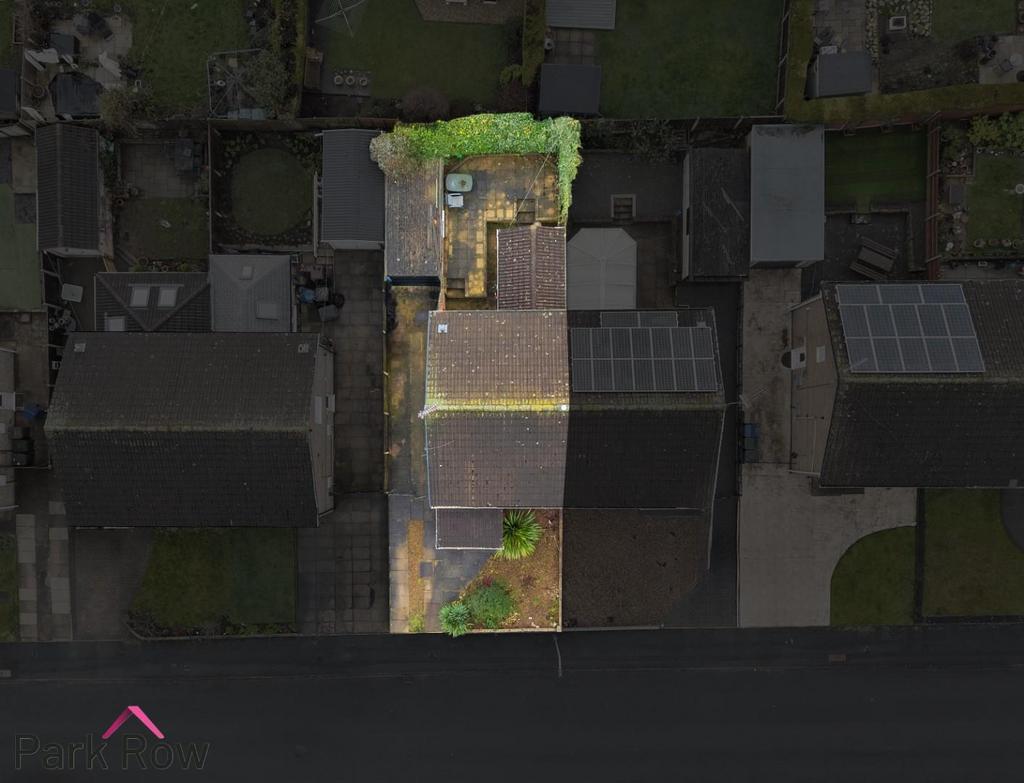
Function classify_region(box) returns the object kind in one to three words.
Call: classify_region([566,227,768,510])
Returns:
house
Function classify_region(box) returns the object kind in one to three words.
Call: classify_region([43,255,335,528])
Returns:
house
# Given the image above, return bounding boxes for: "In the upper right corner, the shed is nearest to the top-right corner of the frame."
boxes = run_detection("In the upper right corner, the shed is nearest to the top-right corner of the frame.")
[809,53,872,102]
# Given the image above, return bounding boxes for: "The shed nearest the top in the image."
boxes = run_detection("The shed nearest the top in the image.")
[547,0,616,32]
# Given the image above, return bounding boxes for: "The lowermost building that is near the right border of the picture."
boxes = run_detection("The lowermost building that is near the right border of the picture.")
[791,278,1024,492]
